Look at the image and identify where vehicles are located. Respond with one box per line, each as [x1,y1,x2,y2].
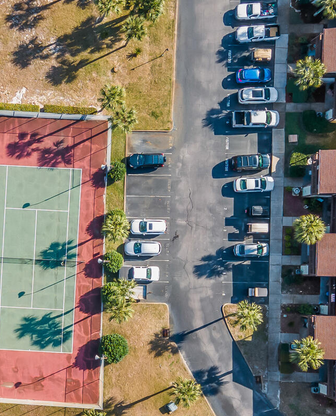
[234,0,280,22]
[118,264,160,284]
[246,48,270,63]
[128,151,167,169]
[240,205,263,216]
[232,153,269,171]
[238,85,278,105]
[241,223,267,234]
[124,239,162,257]
[233,175,274,193]
[234,23,282,44]
[230,108,280,128]
[236,66,270,84]
[243,287,268,297]
[130,217,168,236]
[233,241,269,258]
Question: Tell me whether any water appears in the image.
No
